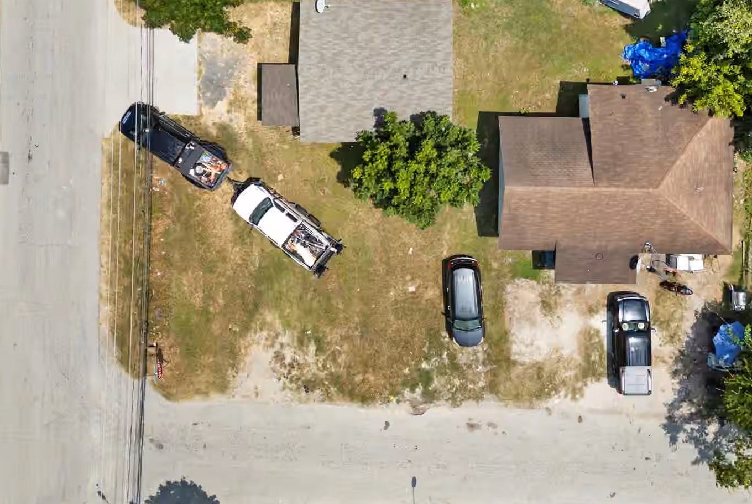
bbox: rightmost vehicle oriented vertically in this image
[608,289,656,397]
